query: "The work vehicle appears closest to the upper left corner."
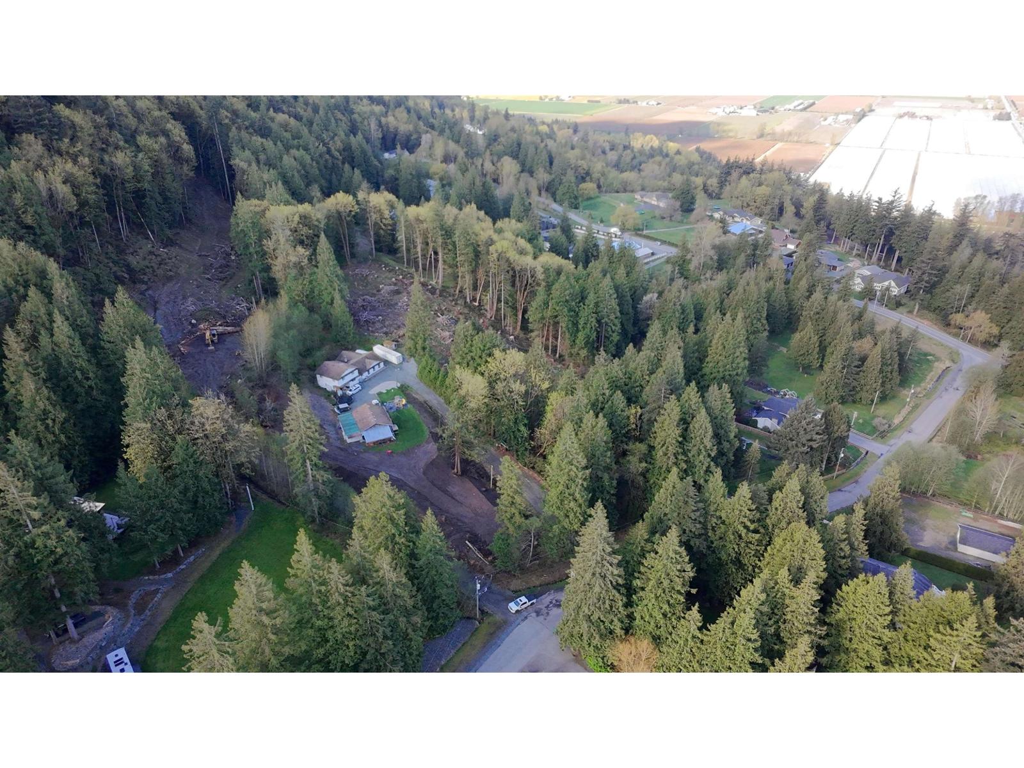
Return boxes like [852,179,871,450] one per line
[204,333,220,354]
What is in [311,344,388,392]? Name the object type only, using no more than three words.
house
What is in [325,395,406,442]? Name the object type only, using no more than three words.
house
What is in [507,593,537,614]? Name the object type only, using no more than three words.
truck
